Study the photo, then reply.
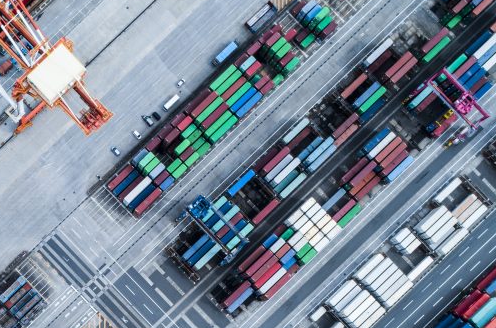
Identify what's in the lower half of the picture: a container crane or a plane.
container crane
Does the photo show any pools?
No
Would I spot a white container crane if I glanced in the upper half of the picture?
Yes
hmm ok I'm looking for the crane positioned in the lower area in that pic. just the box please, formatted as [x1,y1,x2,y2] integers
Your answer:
[170,196,248,273]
